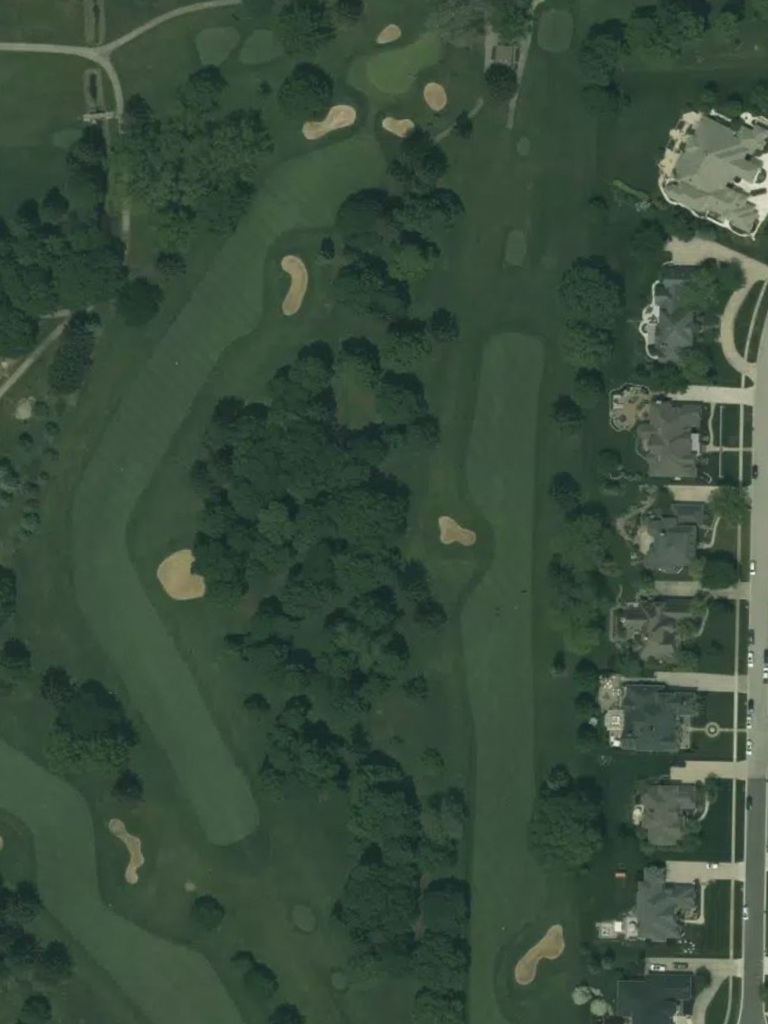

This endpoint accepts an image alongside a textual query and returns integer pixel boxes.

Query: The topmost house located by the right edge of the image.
[664,117,768,230]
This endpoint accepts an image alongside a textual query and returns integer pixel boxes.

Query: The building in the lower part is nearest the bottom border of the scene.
[618,975,693,1024]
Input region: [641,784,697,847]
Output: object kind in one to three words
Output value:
house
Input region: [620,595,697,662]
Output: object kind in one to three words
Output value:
house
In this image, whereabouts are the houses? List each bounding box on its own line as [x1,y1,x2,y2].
[637,867,698,942]
[653,265,701,362]
[636,400,702,477]
[641,784,697,847]
[620,595,697,662]
[622,685,699,751]
[664,117,768,230]
[648,503,706,572]
[618,975,693,1024]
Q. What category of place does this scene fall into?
golf course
